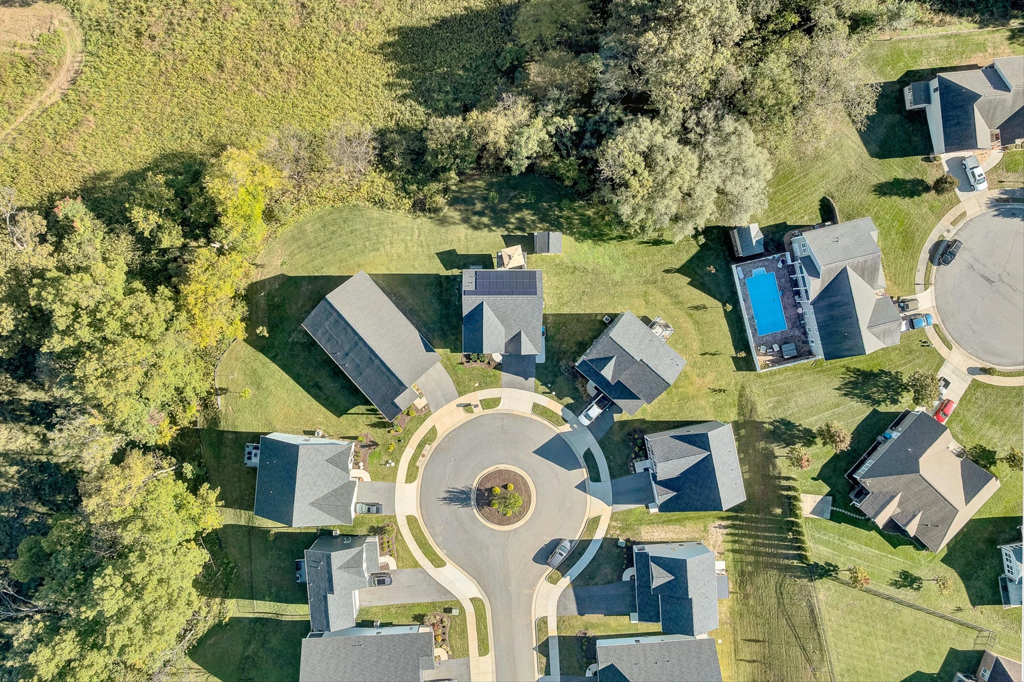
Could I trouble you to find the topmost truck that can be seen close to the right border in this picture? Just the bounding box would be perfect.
[962,156,988,190]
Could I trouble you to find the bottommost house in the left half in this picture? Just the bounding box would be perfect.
[302,619,441,682]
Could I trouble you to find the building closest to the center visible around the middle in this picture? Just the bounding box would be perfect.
[462,269,543,355]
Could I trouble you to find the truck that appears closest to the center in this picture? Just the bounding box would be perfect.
[580,395,613,425]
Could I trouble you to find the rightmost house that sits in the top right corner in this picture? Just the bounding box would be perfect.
[903,56,1024,153]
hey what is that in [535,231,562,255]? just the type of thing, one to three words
shed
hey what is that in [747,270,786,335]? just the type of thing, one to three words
swimming pool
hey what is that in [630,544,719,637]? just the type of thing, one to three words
house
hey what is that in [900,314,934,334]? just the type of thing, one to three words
vehicle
